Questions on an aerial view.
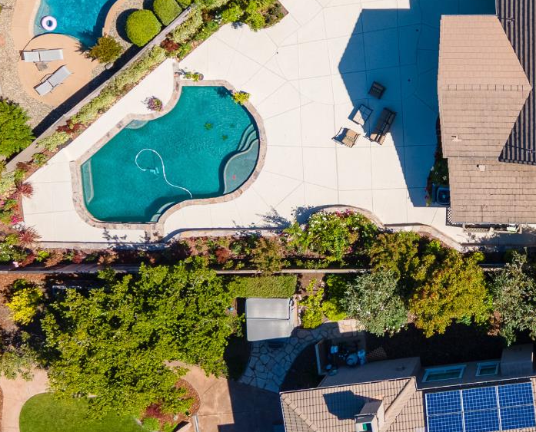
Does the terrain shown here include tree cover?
Yes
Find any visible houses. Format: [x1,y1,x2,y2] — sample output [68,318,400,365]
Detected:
[278,335,536,432]
[439,0,536,227]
